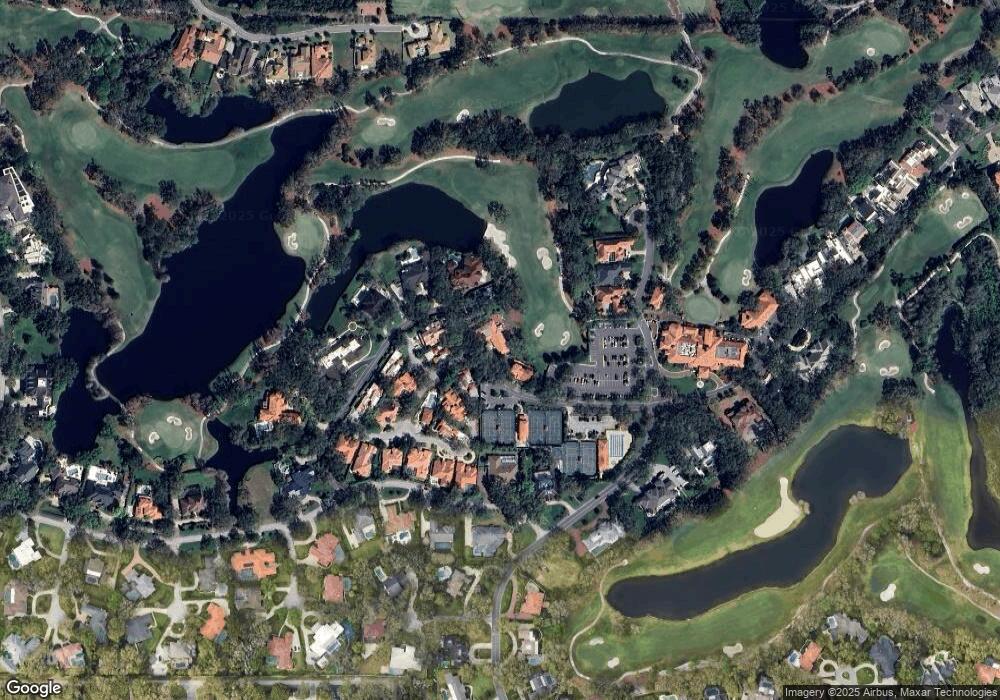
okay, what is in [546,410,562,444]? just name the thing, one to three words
tennis court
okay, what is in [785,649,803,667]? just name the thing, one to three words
swimming pool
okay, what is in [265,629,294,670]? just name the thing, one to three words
house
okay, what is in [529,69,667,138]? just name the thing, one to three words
pond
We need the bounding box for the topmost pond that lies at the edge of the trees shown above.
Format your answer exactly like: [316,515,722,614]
[760,0,808,68]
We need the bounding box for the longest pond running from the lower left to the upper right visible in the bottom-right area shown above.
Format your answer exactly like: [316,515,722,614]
[607,424,911,620]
